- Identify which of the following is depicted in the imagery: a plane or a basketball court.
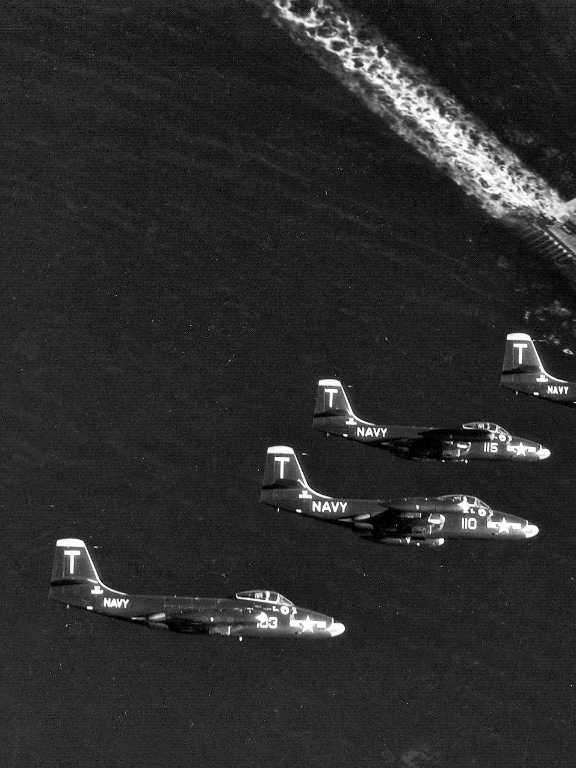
plane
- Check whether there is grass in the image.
No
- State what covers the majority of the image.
water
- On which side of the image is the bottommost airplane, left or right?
left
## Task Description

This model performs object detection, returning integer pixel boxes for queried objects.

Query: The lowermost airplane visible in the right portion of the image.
[259,445,538,548]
